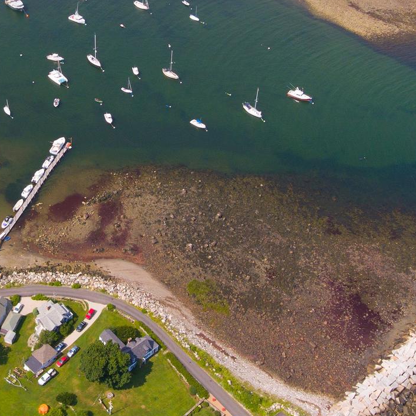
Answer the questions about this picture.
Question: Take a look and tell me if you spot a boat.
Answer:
Yes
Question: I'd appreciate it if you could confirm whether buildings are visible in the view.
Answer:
Yes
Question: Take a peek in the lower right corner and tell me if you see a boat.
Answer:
No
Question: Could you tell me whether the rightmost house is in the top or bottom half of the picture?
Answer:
bottom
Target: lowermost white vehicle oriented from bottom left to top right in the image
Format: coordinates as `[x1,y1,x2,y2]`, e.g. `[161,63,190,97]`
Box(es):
[38,367,58,383]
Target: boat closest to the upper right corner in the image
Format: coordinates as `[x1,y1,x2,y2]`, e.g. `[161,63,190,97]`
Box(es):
[286,80,314,100]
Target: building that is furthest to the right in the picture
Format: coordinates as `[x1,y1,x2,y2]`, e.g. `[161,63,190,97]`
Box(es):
[98,329,161,374]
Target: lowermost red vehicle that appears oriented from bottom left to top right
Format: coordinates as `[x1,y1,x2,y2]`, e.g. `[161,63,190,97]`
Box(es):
[55,353,69,367]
